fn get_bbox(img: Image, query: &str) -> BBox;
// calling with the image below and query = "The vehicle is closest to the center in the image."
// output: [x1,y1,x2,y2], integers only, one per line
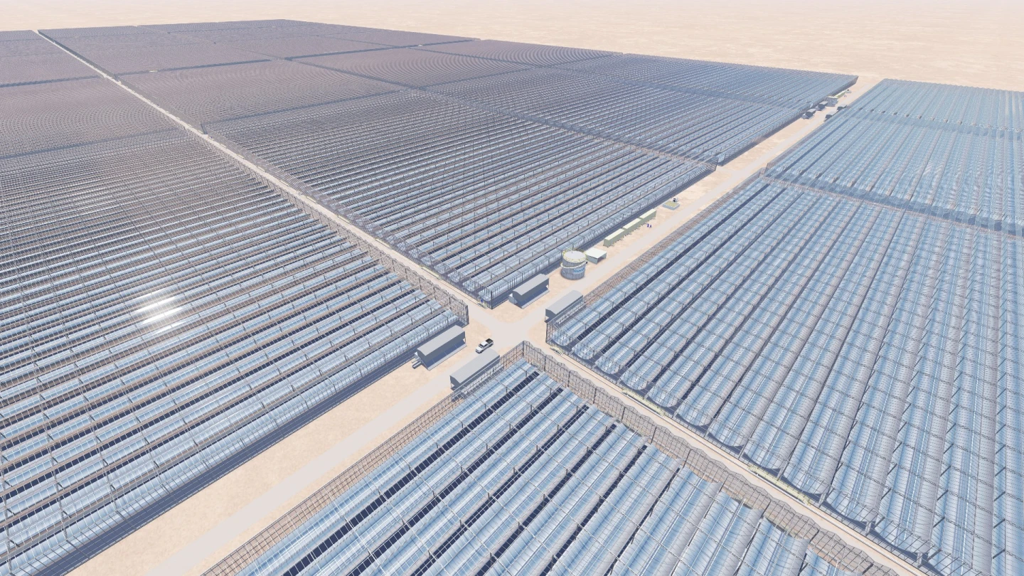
[475,339,494,353]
